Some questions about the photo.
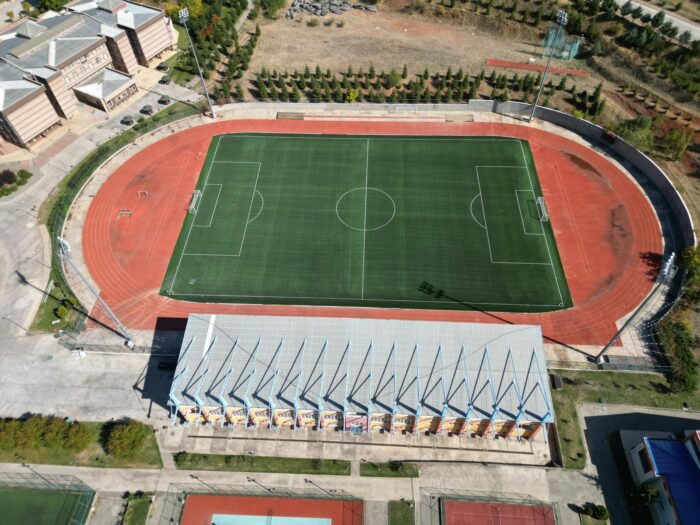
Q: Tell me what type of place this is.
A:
sports ground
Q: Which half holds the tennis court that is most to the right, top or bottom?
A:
bottom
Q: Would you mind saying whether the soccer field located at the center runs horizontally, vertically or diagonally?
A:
horizontally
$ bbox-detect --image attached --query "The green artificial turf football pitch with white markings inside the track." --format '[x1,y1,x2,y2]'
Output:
[161,132,573,312]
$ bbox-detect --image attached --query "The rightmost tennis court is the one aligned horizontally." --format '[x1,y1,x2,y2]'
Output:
[440,500,555,525]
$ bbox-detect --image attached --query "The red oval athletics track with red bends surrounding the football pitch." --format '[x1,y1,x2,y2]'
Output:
[83,119,661,345]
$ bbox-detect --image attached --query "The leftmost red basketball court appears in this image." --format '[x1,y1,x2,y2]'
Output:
[180,494,364,525]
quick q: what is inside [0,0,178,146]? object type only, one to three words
building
